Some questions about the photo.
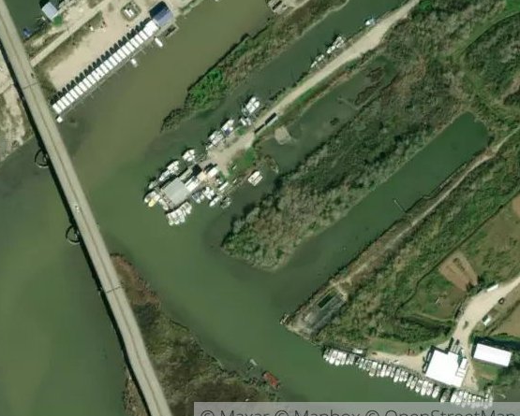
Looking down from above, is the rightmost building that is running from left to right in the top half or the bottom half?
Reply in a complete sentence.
It is in the bottom half that the rightmost building that is running from left to right appears.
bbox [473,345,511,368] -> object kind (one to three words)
building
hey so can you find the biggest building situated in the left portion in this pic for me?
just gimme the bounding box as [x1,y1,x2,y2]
[160,177,191,206]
